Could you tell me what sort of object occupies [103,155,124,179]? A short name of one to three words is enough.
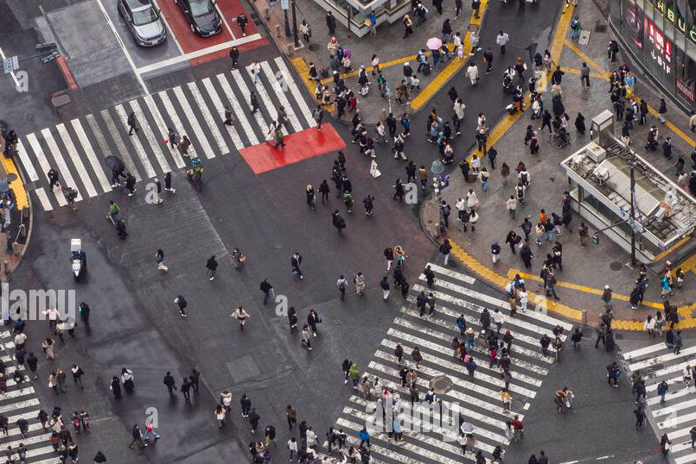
umbrella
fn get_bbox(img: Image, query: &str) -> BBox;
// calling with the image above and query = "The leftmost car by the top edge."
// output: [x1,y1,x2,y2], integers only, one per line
[110,0,169,45]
